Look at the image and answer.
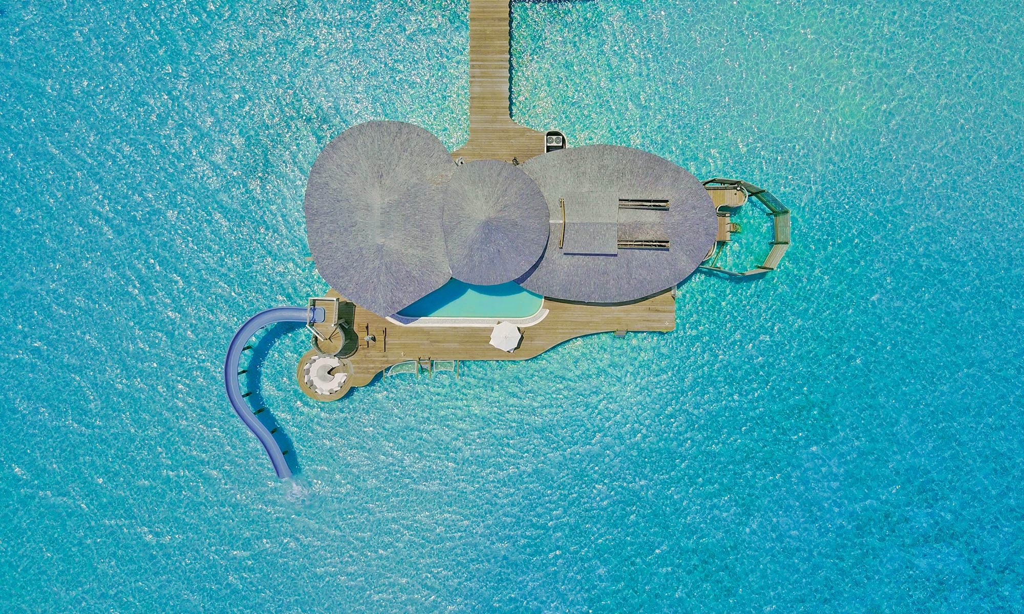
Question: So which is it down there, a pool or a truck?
pool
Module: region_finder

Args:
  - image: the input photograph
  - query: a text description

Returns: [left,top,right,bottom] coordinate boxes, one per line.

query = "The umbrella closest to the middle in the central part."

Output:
[491,321,521,351]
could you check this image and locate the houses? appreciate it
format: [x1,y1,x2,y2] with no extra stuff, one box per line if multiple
[304,120,718,318]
